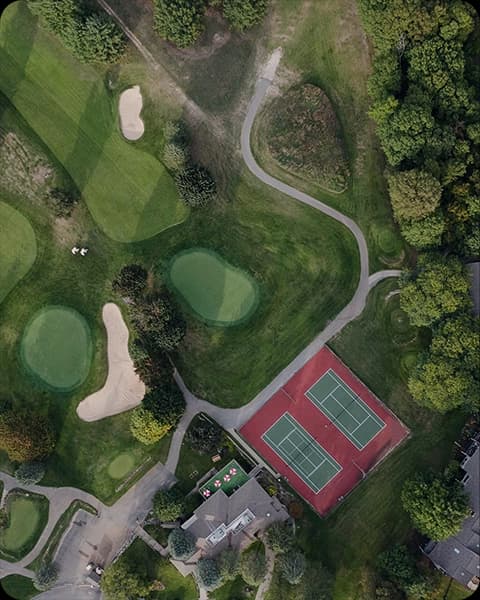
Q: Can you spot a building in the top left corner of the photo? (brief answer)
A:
No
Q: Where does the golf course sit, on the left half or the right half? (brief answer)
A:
left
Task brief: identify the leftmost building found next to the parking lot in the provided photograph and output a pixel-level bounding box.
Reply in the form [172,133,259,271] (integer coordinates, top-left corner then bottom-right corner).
[179,455,288,559]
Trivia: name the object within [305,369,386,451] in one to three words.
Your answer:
tennis court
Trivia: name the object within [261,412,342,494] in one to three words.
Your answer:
tennis court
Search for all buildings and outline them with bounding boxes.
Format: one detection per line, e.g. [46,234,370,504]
[470,263,480,320]
[418,439,480,589]
[179,455,288,559]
